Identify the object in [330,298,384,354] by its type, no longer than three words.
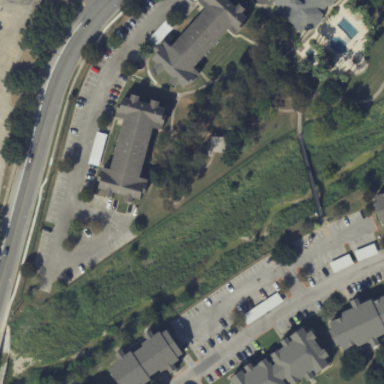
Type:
building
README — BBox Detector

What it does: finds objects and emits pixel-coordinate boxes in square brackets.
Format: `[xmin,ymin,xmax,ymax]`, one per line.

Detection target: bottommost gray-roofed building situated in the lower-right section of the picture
[230,326,334,384]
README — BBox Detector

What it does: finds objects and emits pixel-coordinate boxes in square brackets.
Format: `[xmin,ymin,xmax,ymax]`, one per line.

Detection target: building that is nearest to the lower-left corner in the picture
[112,330,186,384]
